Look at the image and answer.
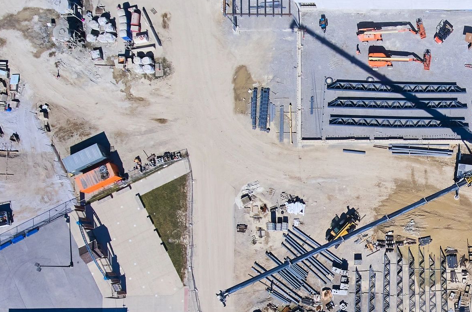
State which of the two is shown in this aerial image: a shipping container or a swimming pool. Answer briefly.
shipping container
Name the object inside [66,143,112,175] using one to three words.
shipping container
